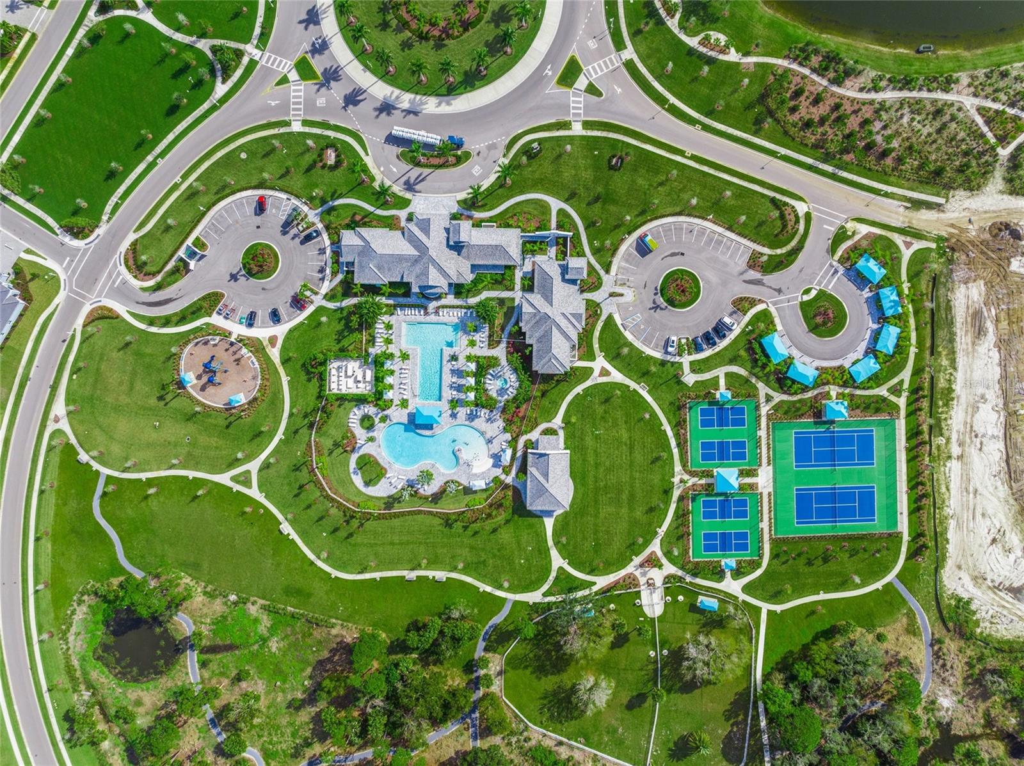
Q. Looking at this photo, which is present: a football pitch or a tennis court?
tennis court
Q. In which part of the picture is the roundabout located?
top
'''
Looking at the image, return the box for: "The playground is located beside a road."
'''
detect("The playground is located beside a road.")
[179,335,260,408]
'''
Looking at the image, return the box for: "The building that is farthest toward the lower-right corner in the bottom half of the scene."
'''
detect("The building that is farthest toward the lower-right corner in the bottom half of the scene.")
[527,435,570,510]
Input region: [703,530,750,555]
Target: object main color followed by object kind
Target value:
blue sports court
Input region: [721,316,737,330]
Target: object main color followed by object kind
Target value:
white car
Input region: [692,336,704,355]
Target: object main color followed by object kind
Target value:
blue vehicle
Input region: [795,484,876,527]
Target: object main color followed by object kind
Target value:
blue tennis court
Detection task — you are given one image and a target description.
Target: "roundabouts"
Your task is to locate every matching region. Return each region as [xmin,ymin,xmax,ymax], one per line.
[319,0,562,111]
